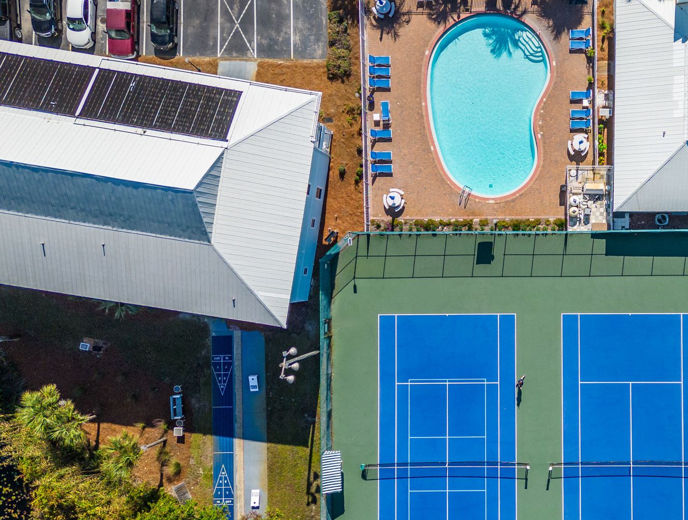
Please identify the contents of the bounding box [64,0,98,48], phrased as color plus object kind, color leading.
white car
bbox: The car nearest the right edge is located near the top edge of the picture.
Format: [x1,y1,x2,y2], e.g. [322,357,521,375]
[146,0,178,50]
